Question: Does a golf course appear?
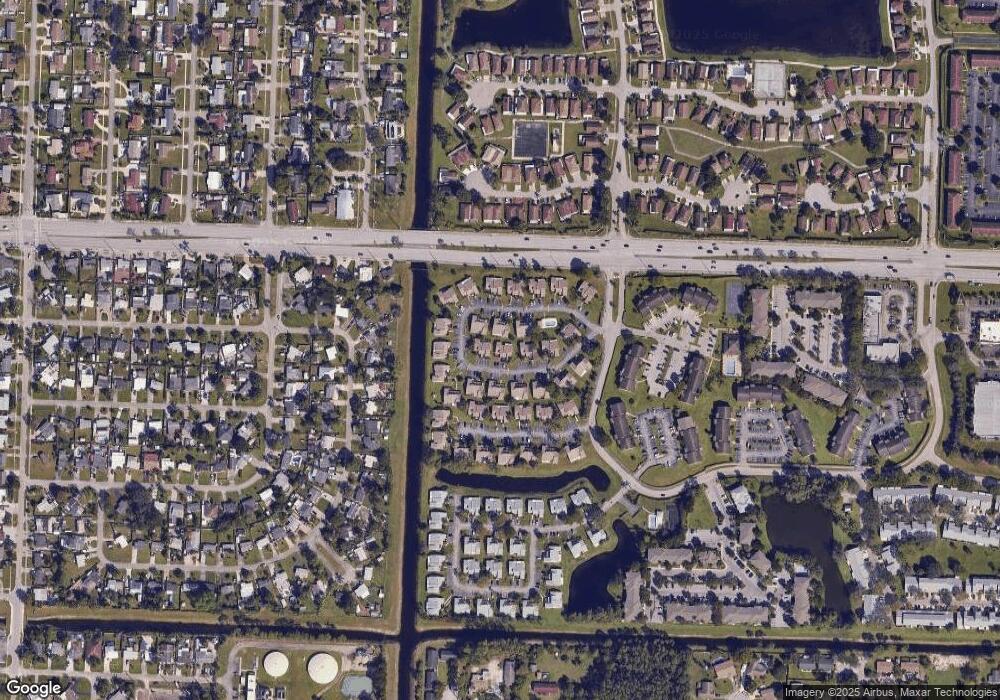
No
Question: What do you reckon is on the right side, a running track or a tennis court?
tennis court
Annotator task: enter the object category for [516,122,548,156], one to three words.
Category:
sports court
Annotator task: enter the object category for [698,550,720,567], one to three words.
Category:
building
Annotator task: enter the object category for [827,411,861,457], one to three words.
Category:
building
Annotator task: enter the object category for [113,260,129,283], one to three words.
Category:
house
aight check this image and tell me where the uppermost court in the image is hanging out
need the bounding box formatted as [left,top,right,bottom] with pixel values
[756,62,785,99]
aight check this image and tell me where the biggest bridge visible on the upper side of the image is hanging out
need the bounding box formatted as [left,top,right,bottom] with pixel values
[408,228,433,263]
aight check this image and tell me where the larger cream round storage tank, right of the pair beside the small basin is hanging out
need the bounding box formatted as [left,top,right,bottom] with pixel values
[308,653,338,684]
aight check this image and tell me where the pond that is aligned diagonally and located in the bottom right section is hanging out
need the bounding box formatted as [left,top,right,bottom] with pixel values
[764,496,852,617]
